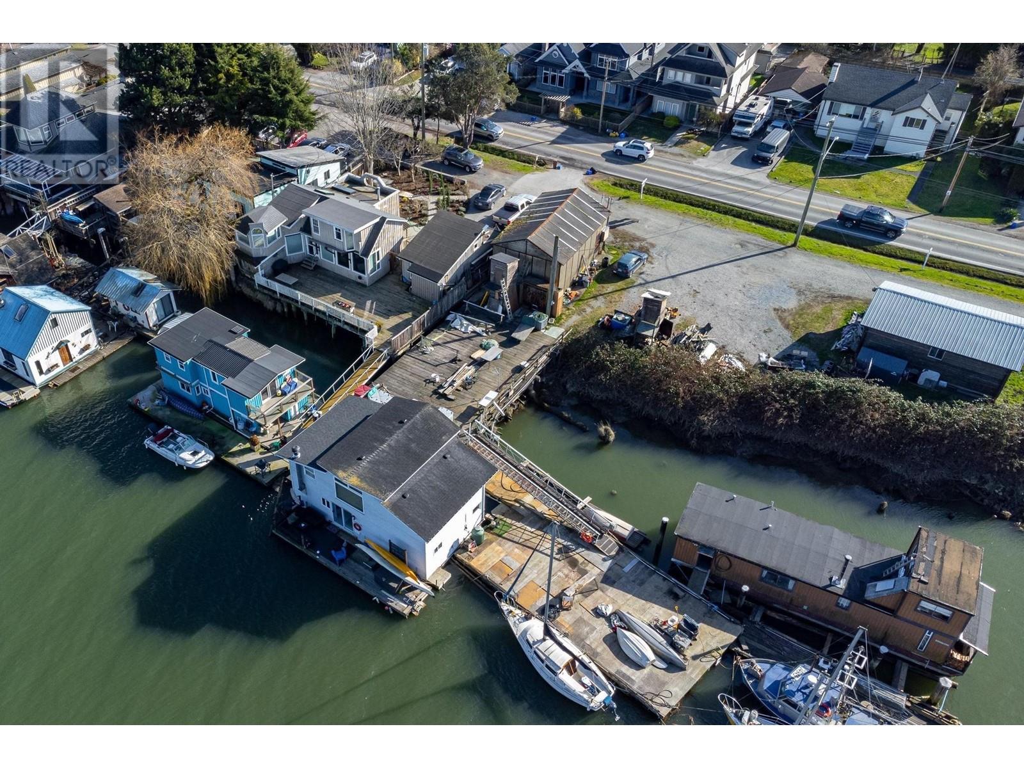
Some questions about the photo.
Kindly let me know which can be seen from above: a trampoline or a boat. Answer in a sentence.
This aerial view contains a boat.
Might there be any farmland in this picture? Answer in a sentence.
No, there is no farmland in the image.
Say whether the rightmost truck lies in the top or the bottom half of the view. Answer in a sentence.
The rightmost truck is in the top half of the image.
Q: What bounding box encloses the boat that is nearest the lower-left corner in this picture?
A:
[138,426,213,467]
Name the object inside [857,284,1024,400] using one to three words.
barn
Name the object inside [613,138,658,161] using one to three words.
car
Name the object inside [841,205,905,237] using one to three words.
truck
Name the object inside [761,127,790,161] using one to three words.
van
